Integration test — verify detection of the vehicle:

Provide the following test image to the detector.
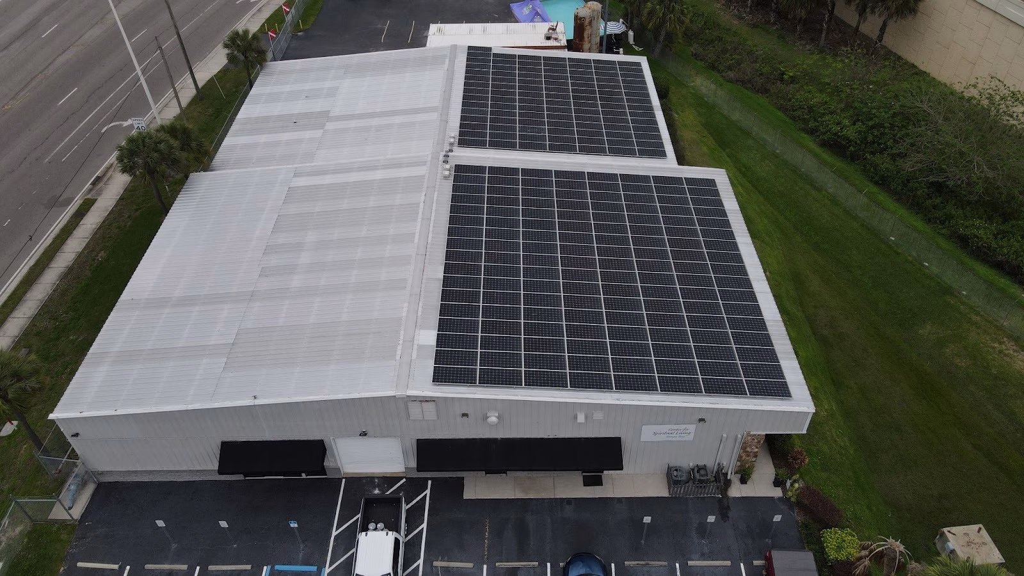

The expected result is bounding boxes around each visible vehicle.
[350,498,407,576]
[768,546,826,576]
[561,553,611,576]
